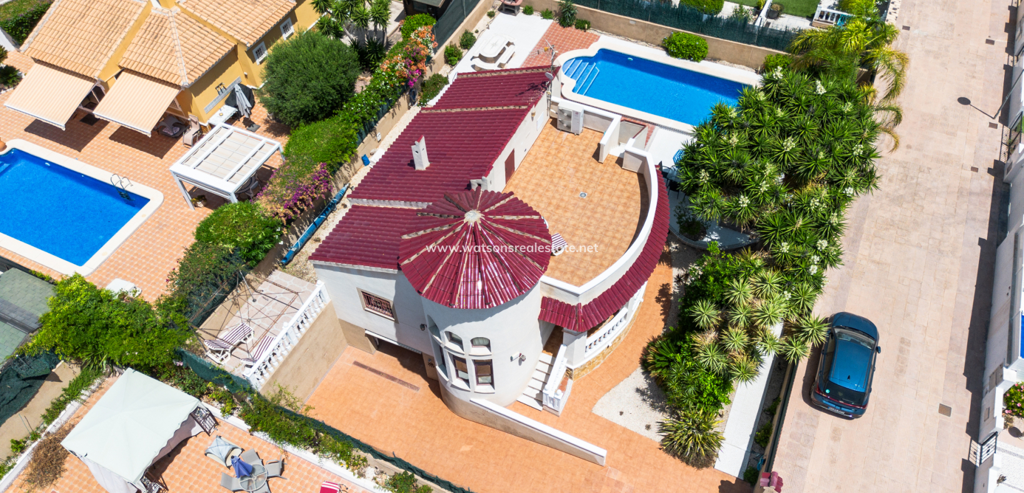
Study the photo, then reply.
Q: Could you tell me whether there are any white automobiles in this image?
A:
No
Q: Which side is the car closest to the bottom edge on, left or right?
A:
right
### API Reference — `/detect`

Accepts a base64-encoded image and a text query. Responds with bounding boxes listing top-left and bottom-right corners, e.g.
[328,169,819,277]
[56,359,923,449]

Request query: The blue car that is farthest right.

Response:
[810,314,885,425]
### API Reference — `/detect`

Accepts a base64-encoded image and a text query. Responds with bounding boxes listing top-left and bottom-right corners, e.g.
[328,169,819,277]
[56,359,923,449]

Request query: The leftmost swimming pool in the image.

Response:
[0,150,147,266]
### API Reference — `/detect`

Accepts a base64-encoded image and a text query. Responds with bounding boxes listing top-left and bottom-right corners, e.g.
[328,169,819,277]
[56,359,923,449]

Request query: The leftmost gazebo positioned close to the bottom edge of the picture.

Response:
[62,368,219,493]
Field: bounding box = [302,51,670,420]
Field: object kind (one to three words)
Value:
house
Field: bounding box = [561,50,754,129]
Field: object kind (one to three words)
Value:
swimming pool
